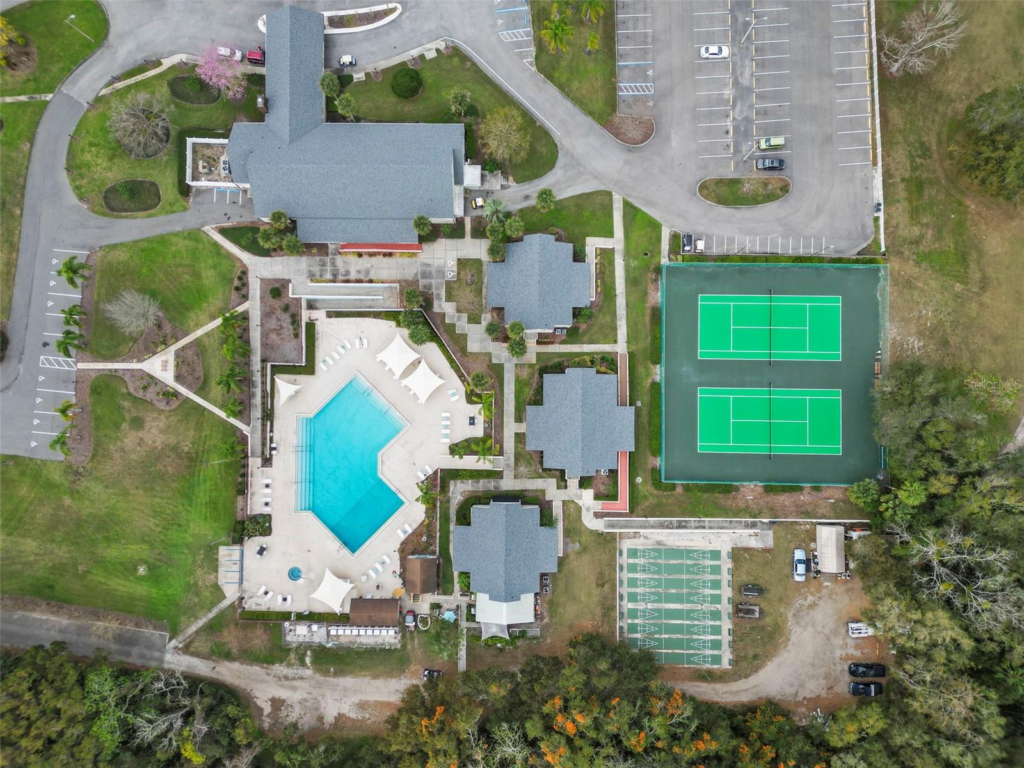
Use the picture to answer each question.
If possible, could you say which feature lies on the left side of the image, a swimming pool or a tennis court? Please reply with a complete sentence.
There is a swimming pool on the left side of the image.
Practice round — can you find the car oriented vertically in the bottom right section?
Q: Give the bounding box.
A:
[794,551,808,581]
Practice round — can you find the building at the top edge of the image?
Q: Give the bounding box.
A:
[229,6,507,253]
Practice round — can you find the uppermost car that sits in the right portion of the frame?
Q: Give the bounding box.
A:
[701,42,730,57]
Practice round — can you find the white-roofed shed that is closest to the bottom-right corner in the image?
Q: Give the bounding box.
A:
[811,524,845,582]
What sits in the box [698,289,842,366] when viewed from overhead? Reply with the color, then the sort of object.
green tennis court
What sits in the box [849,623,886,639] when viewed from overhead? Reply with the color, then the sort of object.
white vehicle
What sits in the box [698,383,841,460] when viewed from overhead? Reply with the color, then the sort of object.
green tennis court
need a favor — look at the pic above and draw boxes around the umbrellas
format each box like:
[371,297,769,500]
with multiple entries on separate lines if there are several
[443,609,456,622]
[394,586,404,598]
